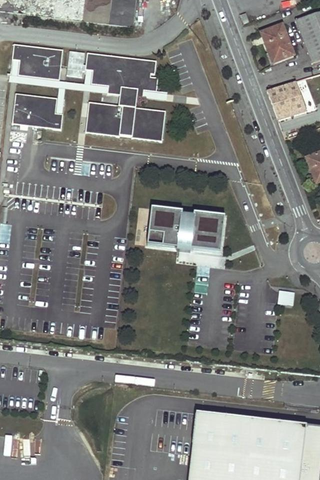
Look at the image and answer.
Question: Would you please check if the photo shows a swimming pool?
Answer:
No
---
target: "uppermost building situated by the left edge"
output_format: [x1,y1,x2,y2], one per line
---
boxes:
[12,45,64,81]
